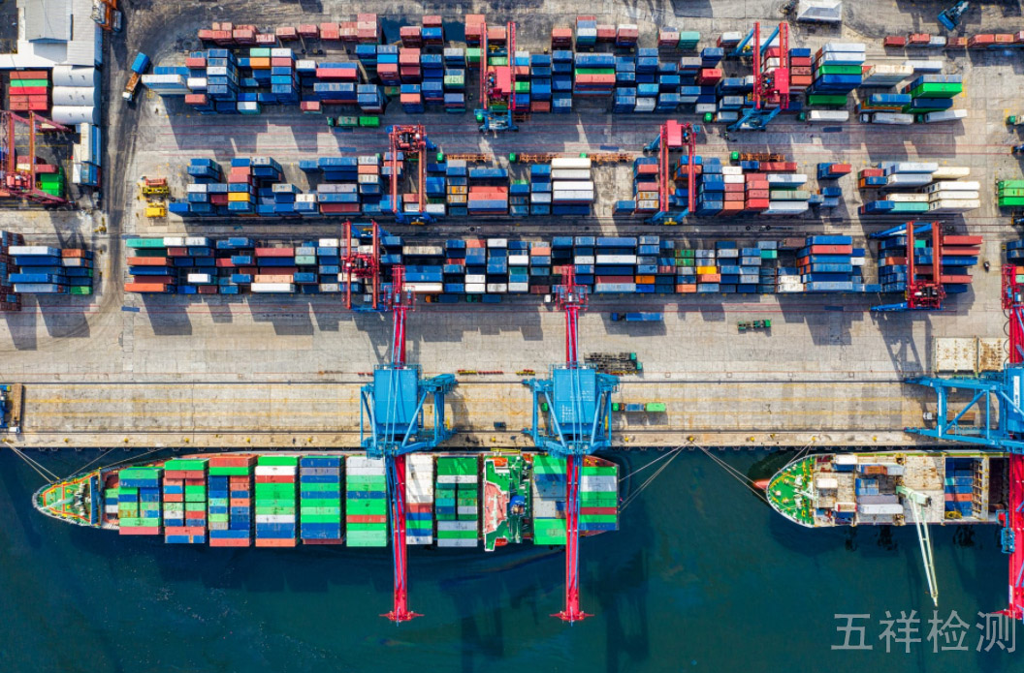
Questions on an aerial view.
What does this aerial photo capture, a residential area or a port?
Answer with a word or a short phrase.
port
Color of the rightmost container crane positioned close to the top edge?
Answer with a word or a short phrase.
red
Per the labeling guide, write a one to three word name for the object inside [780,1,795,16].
work vehicle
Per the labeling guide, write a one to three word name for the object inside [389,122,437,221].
container crane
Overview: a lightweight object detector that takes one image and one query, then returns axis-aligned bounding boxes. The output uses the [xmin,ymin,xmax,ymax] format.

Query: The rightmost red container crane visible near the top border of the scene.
[730,21,793,128]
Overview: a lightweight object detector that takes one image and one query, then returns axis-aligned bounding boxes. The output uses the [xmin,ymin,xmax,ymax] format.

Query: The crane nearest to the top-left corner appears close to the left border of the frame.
[4,109,83,208]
